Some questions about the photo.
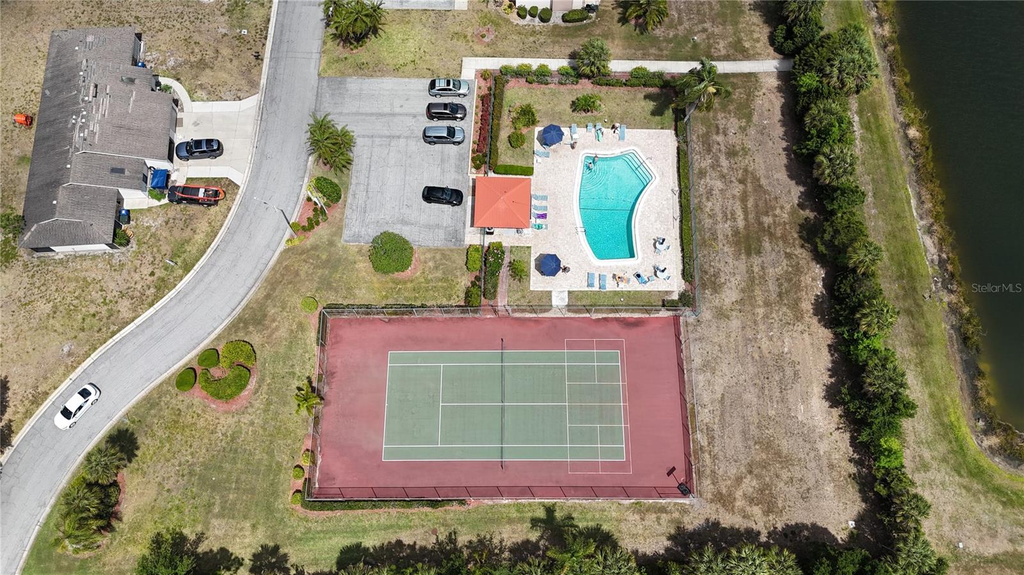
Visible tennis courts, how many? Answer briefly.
1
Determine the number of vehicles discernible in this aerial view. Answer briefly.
7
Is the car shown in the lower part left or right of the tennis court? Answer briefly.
left of it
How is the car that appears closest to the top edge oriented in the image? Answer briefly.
from left to right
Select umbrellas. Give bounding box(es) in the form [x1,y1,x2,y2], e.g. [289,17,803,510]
[537,254,563,278]
[540,125,564,146]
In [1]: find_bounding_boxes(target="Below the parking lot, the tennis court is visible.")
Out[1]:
[313,315,692,499]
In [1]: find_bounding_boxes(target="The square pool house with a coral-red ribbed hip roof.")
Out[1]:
[473,177,531,233]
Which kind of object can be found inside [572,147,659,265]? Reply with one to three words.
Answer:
swimming pool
